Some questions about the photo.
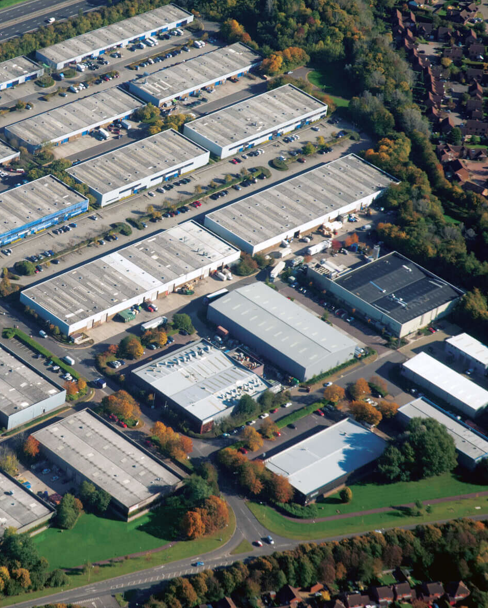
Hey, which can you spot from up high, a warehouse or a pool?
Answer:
warehouse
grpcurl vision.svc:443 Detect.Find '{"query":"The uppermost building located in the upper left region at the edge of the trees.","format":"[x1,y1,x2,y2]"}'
[36,3,193,69]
